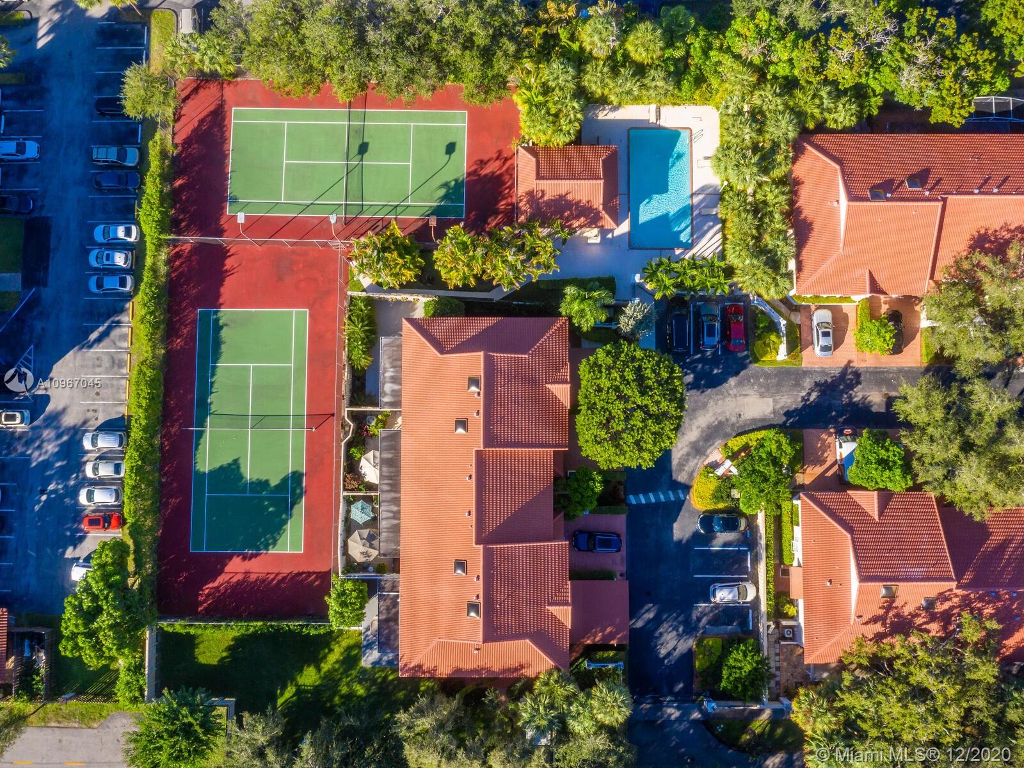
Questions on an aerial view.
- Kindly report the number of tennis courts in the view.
two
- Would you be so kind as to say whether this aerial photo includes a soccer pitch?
No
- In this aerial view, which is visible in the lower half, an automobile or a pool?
automobile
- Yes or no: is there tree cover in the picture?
Yes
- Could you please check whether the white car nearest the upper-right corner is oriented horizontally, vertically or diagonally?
vertically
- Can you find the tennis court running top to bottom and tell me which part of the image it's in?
left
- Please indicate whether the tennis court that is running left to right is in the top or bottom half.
top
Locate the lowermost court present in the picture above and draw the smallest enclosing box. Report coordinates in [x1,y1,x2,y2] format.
[157,246,345,619]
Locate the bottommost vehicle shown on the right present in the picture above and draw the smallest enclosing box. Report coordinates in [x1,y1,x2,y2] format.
[709,581,756,604]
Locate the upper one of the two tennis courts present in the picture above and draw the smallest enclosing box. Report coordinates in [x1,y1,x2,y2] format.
[173,78,517,246]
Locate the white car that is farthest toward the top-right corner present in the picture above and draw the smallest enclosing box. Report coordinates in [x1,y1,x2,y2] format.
[810,310,834,357]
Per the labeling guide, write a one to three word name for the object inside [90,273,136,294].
car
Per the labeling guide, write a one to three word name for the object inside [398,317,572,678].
house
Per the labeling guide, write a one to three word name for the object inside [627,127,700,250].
swimming pool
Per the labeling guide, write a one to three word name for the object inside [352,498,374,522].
umbrella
